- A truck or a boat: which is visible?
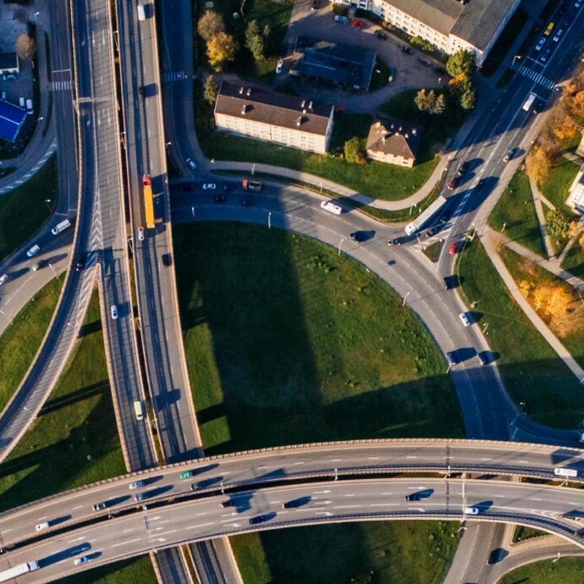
truck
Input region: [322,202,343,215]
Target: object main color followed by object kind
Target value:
white vehicle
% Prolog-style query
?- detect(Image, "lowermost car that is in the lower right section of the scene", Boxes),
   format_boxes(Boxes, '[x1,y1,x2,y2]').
[488,549,500,565]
